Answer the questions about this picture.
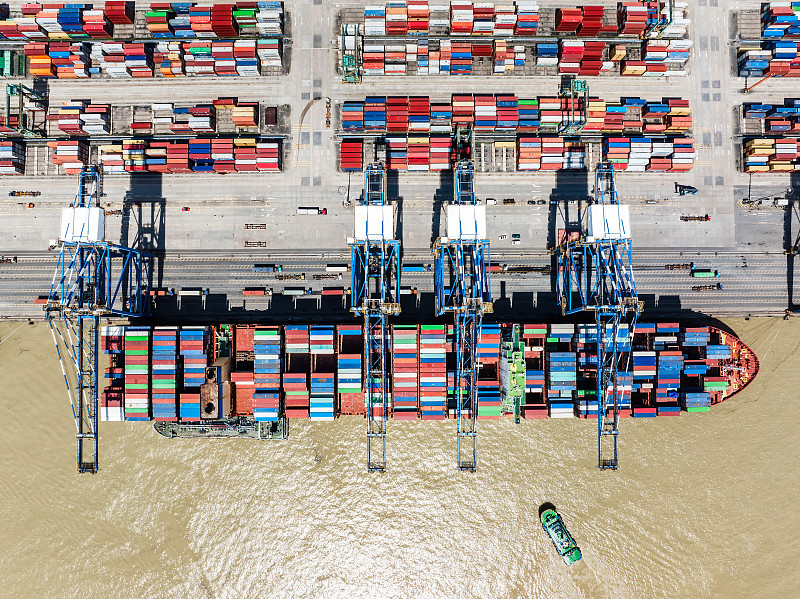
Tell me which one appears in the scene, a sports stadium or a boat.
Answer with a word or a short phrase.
boat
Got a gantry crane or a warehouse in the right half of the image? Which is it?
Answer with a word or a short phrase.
gantry crane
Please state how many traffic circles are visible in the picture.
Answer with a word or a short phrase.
0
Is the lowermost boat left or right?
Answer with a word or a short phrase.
right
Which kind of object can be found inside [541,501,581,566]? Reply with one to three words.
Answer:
boat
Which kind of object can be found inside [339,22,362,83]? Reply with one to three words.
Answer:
container crane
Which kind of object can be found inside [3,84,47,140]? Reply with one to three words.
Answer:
container crane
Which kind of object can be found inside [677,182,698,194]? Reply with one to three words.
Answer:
vehicle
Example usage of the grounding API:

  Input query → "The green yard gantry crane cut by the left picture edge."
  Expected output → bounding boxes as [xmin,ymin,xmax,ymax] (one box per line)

[0,24,30,84]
